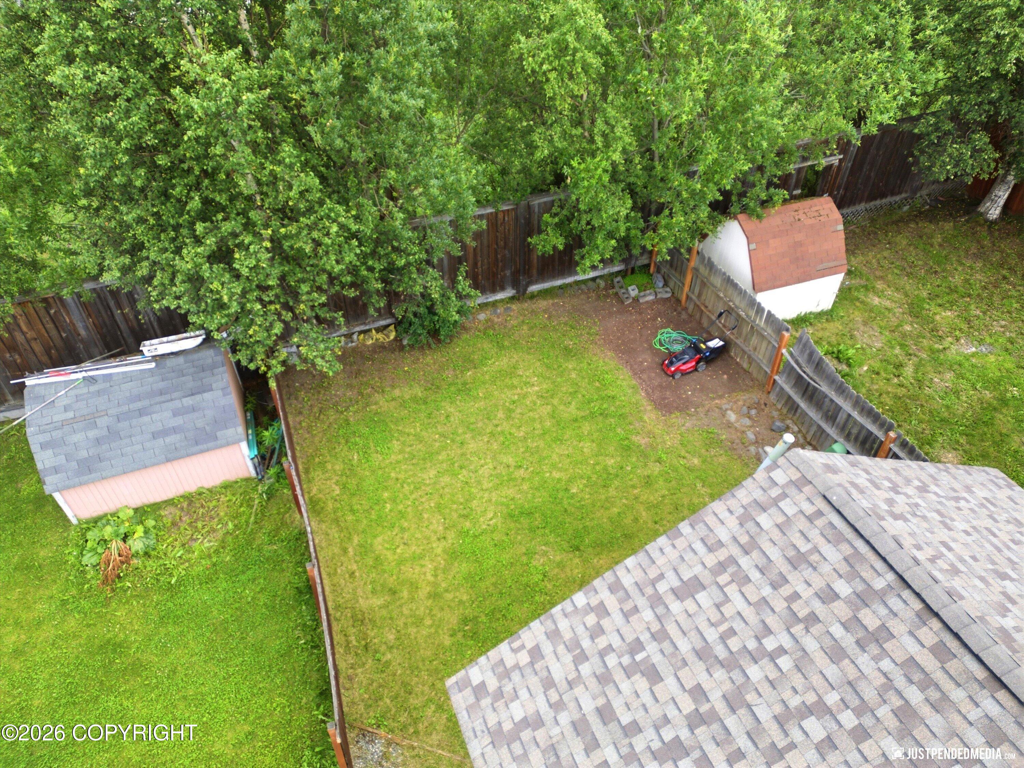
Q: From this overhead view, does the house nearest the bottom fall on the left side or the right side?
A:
right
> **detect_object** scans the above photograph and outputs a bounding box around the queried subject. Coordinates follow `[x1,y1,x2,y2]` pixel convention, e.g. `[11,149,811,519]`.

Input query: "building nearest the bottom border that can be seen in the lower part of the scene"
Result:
[444,447,1024,768]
